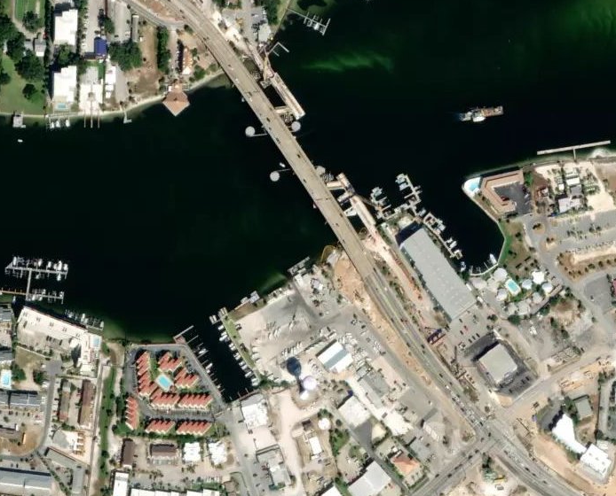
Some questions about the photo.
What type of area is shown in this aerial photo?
port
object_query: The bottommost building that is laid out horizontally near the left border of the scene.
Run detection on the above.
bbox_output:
[0,471,51,492]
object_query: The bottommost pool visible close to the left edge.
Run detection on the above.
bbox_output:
[0,372,14,388]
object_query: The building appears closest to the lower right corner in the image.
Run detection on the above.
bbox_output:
[580,444,609,481]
